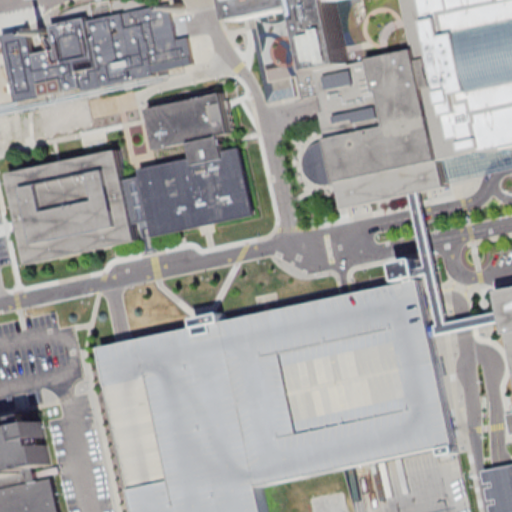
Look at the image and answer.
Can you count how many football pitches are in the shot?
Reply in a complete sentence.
I count no football pitches.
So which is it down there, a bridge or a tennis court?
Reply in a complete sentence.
The image shows a bridge.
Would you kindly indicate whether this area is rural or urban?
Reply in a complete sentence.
The land in this view is best described as urban.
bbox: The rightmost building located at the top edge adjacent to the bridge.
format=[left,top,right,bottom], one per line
[413,0,512,155]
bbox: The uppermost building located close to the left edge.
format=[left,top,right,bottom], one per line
[2,6,194,102]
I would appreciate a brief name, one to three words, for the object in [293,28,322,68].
shed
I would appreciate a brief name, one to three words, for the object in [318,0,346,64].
shed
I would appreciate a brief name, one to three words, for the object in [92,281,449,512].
building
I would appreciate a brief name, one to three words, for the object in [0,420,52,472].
building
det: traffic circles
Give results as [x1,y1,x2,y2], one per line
[460,239,490,272]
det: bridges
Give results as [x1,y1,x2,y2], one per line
[407,186,497,335]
